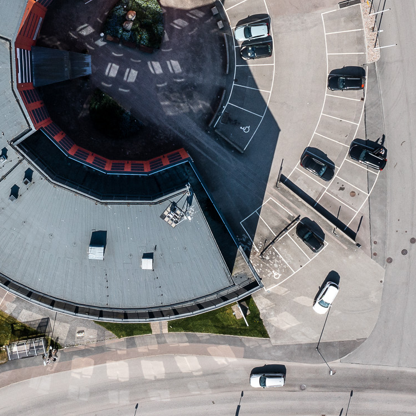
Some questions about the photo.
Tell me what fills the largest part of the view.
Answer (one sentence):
The scene is dominated by paved ground.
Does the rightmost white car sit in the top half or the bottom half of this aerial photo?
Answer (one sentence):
It is in the bottom half that the rightmost white car appears.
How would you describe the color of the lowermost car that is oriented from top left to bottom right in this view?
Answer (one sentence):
From above, the lowermost car that is oriented from top left to bottom right appears black.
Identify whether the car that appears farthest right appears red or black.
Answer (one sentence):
The color of the car that appears farthest right is black.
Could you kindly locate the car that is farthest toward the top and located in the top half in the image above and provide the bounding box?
[234,23,271,41]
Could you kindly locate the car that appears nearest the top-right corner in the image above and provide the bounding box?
[328,75,365,91]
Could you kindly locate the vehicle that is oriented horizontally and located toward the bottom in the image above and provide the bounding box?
[250,371,284,388]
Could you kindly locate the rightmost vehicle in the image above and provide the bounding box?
[348,146,387,173]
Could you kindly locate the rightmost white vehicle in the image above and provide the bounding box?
[315,281,338,315]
